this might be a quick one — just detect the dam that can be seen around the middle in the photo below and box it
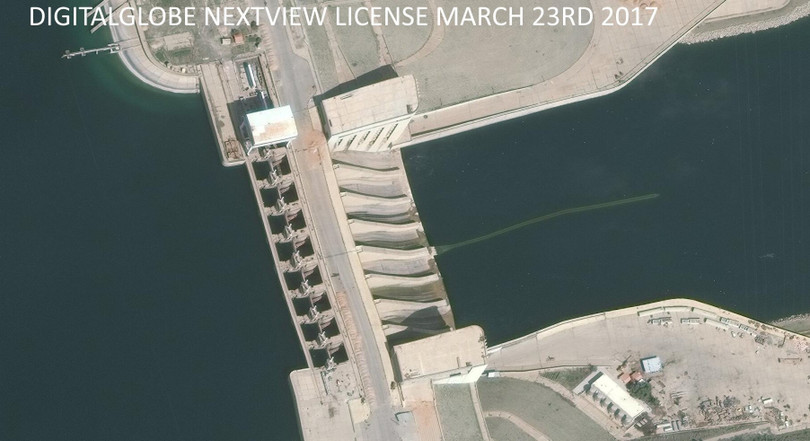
[201,50,454,441]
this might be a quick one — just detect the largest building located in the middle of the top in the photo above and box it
[320,75,421,154]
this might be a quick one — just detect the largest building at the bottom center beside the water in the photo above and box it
[390,325,489,387]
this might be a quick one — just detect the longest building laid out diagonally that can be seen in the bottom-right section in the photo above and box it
[588,373,644,423]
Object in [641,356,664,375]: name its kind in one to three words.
shed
